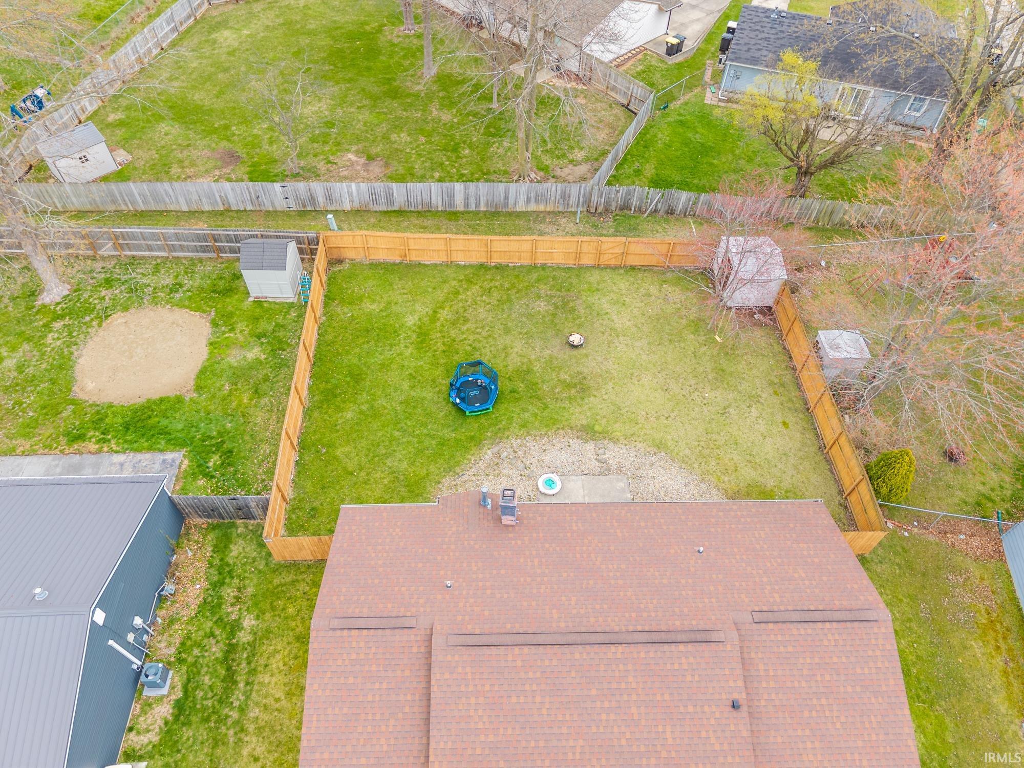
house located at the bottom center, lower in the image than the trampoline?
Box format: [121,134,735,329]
[300,483,926,768]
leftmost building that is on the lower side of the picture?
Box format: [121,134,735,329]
[0,472,187,768]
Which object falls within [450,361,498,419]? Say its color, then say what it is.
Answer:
blue trampoline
